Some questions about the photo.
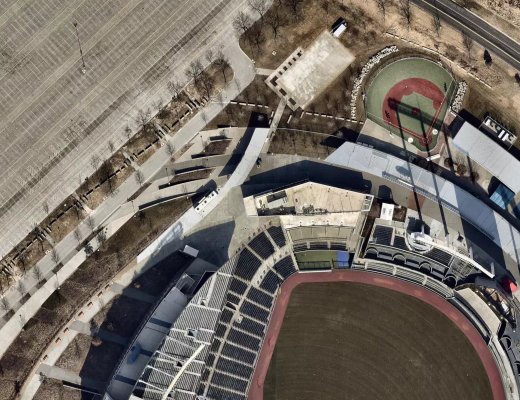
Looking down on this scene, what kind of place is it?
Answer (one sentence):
This looks like a sports ground.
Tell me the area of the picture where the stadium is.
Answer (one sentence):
You can find the stadium in the bottom area of the picture.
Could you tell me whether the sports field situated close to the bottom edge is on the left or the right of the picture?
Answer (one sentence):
The sports field situated close to the bottom edge sits on the right side.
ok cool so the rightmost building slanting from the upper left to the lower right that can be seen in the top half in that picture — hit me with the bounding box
[452,120,520,198]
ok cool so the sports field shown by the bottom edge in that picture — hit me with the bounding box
[262,281,493,400]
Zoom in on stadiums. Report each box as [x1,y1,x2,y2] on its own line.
[101,206,515,400]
